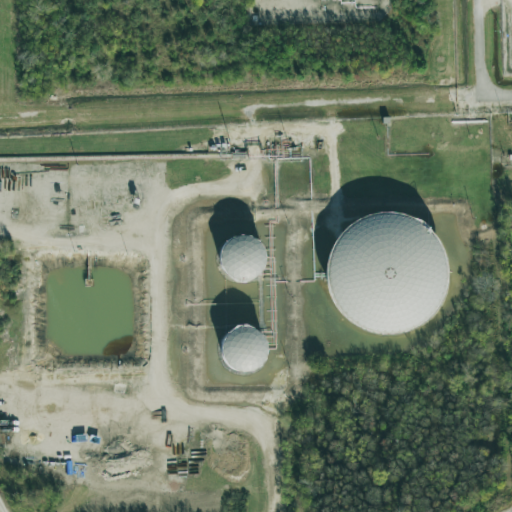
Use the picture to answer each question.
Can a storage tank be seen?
Yes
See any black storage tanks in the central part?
No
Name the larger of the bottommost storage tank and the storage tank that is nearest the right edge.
the storage tank that is nearest the right edge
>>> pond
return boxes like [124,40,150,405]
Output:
[45,264,135,357]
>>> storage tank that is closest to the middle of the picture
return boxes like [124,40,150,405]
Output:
[218,236,268,284]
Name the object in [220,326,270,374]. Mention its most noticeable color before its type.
white storage tank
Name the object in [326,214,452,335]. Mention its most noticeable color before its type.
white storage tank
